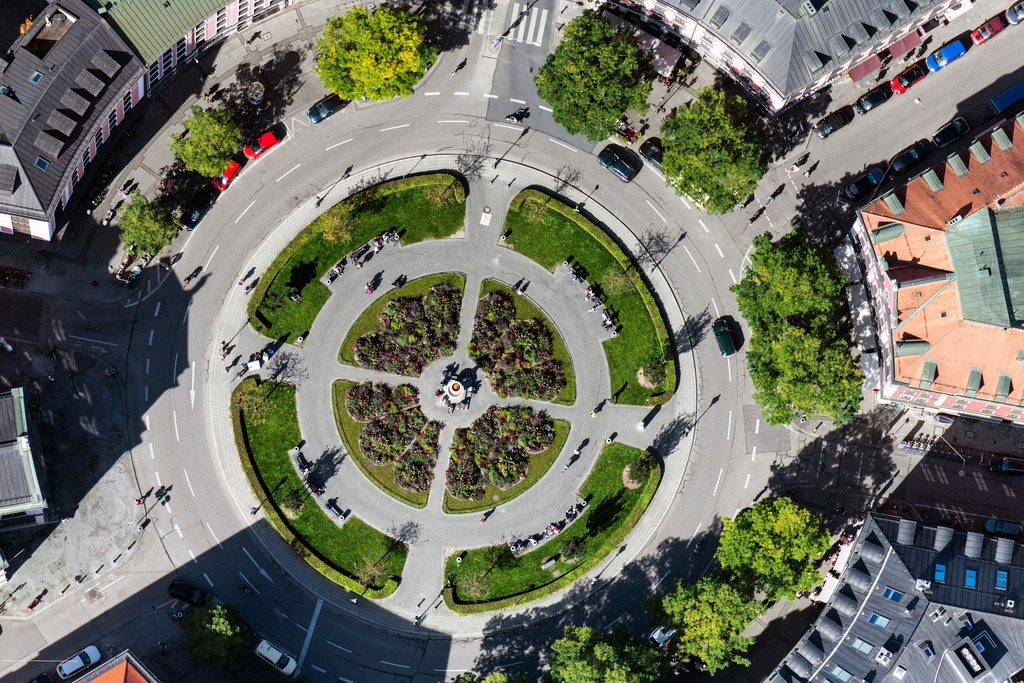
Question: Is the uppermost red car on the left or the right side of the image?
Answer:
right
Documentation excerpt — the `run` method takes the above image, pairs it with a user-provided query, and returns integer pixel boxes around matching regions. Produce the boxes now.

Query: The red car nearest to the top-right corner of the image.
[971,14,1007,42]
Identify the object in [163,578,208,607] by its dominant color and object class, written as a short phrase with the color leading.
black car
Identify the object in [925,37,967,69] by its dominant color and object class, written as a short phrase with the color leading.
blue car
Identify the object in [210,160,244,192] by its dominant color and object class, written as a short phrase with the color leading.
red car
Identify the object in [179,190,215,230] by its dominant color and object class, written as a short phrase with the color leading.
black car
